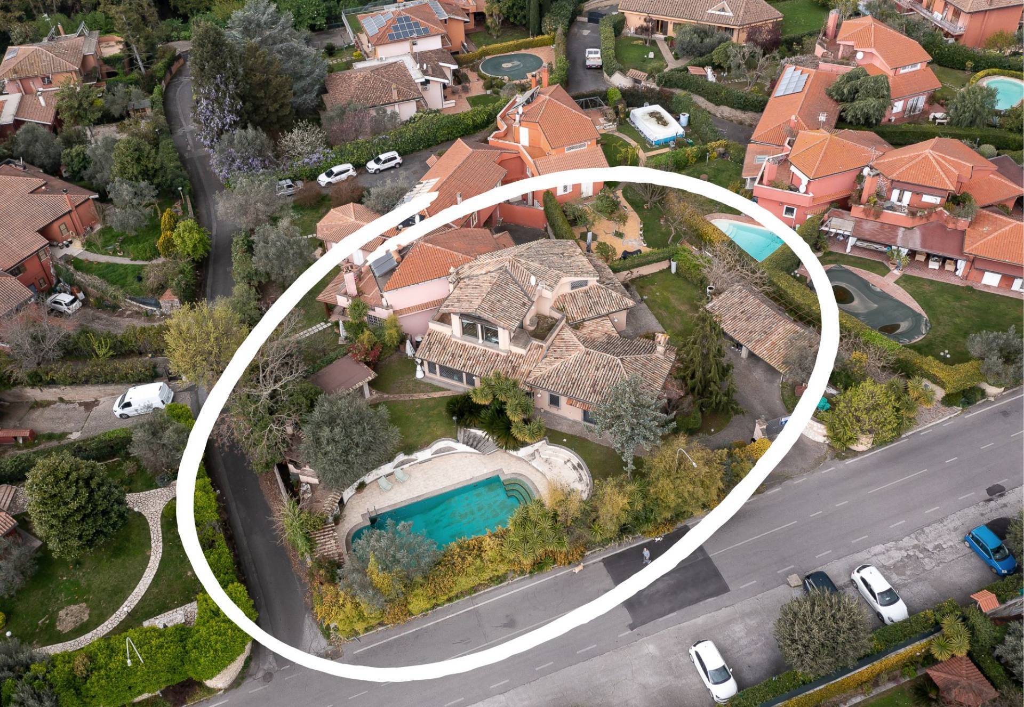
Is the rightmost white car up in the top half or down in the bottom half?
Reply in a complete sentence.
The bottom half of the photo is where the rightmost white car is.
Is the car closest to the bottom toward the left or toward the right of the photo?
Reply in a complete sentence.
The car closest to the bottom appears in the right half of the scene.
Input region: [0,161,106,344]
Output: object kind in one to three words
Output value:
house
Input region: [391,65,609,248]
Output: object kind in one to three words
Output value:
house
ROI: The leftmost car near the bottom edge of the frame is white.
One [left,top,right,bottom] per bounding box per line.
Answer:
[688,638,738,704]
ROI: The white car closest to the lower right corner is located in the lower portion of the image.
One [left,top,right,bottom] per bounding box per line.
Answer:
[849,563,912,622]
